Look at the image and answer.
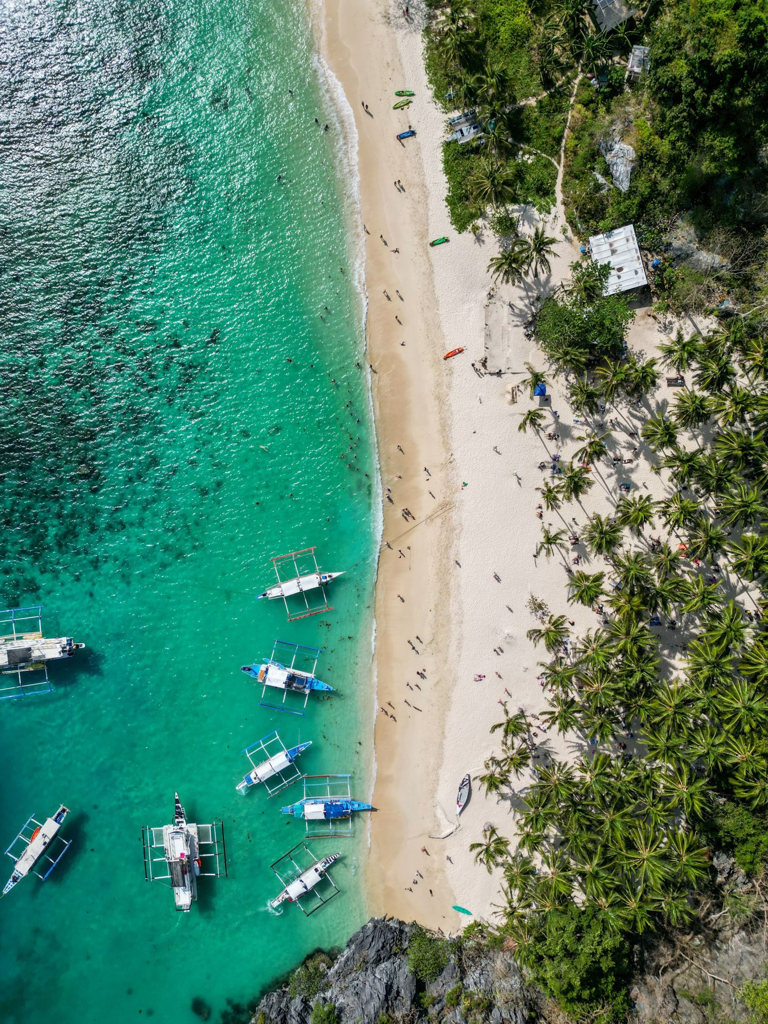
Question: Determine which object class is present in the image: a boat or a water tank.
boat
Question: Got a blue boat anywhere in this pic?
Yes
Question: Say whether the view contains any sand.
Yes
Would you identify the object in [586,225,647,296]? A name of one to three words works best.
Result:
shed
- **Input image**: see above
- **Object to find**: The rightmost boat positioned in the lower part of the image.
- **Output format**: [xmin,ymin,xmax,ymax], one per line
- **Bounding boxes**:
[457,773,469,815]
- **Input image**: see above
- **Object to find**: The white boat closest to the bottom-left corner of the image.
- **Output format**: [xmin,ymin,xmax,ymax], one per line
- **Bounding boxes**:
[3,803,72,894]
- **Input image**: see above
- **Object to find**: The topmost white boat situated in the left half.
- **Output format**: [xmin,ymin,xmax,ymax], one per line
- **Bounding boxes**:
[257,547,346,621]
